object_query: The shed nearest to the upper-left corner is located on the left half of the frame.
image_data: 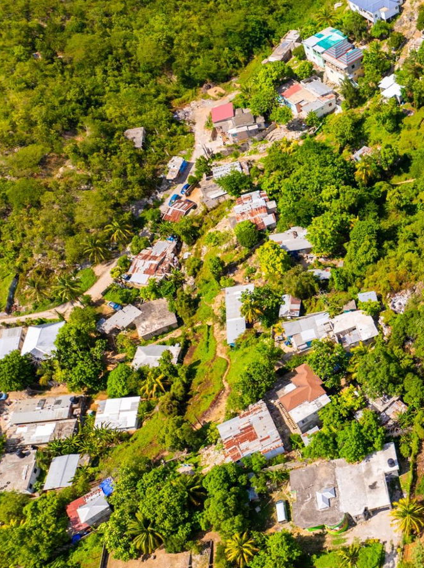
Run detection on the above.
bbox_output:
[125,127,147,159]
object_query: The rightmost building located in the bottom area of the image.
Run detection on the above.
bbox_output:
[372,396,409,422]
